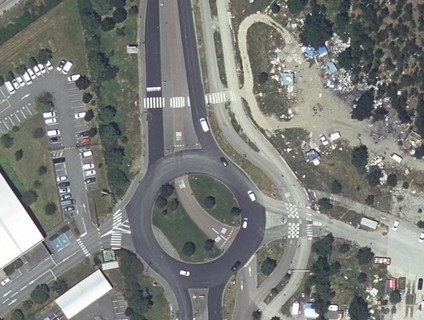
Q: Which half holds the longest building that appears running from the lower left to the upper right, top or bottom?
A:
bottom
